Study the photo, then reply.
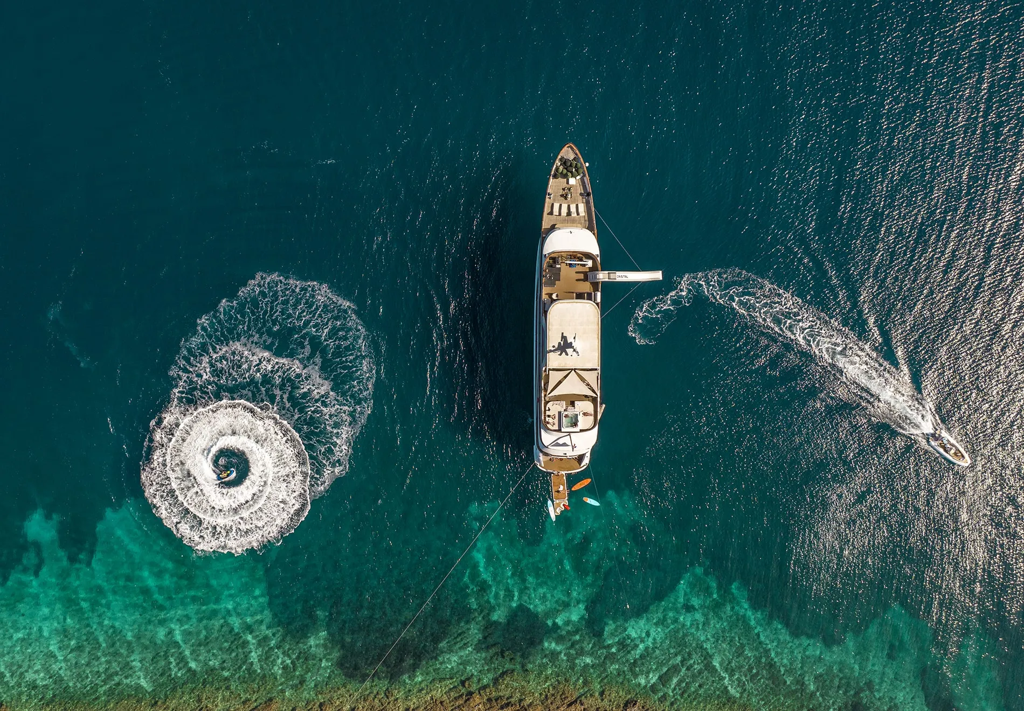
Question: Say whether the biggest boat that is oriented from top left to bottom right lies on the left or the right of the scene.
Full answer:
The biggest boat that is oriented from top left to bottom right sits on the right side.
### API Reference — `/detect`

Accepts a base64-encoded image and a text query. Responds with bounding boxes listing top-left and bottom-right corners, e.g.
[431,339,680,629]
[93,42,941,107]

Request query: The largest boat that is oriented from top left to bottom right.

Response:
[924,428,969,466]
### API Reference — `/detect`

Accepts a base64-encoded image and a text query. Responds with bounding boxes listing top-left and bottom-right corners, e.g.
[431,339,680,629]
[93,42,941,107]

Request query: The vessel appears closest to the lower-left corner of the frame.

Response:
[216,468,236,481]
